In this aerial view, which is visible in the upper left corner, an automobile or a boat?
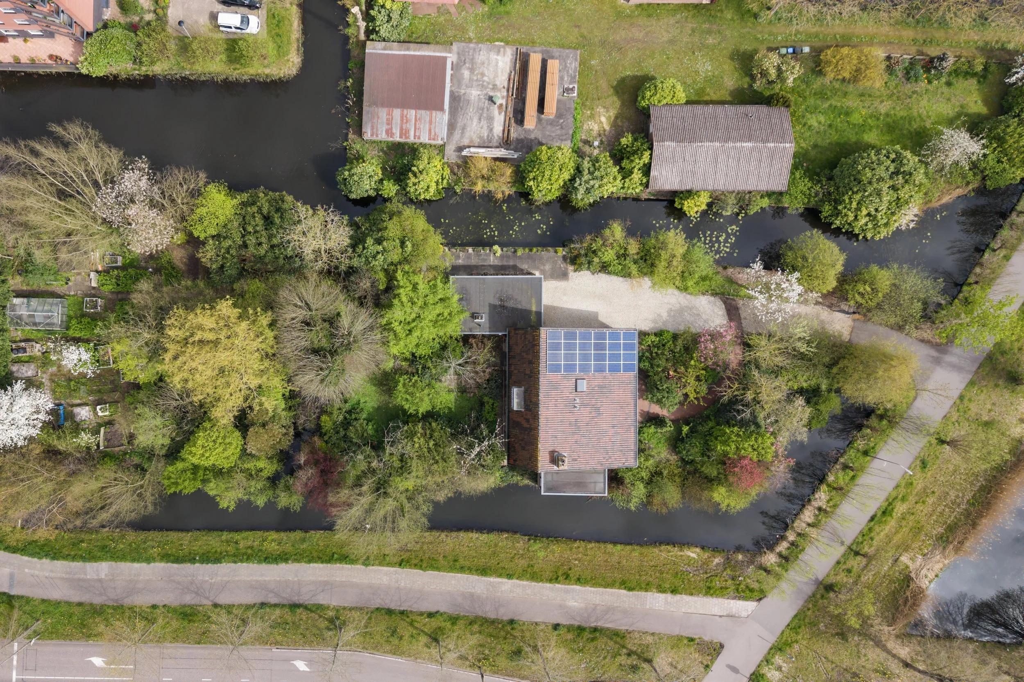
automobile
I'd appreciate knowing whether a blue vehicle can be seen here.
No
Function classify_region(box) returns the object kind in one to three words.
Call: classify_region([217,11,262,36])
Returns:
car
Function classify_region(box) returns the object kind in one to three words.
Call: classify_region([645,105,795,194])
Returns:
shed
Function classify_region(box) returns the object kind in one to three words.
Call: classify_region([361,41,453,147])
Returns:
barn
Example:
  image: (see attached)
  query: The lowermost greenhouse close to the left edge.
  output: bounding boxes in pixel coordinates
[0,298,66,329]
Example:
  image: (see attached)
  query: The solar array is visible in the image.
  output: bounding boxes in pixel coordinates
[548,330,637,373]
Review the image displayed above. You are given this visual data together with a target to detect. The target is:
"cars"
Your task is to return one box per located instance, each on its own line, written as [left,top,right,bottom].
[217,11,262,36]
[219,0,263,15]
